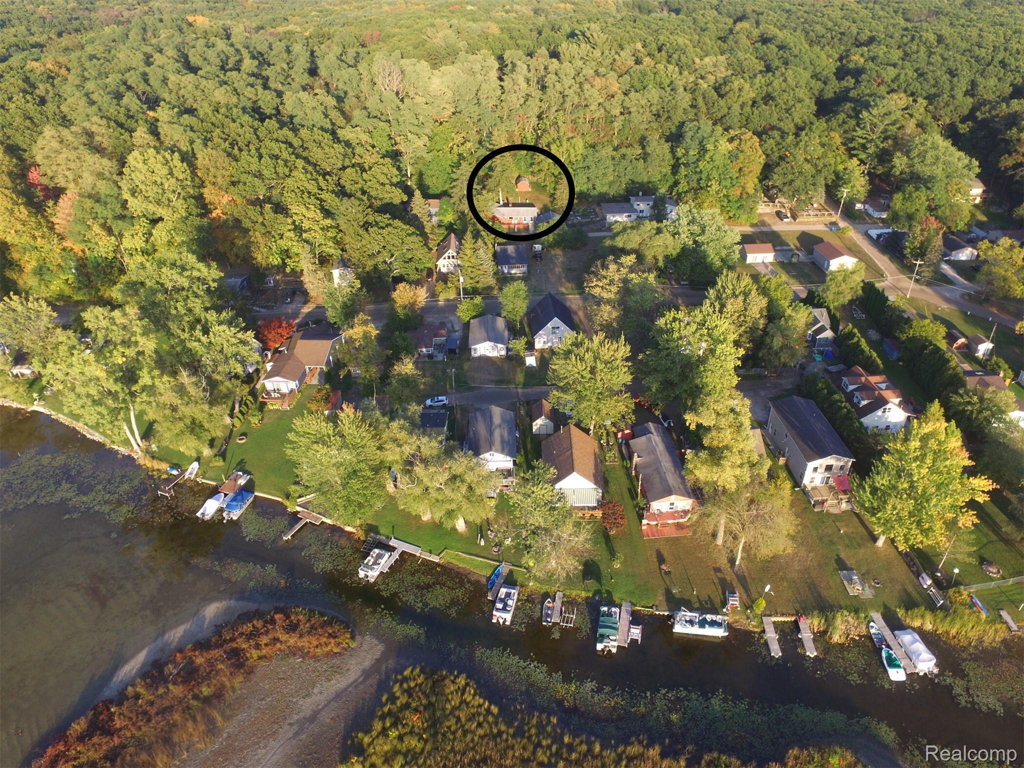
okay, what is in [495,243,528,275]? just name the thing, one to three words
house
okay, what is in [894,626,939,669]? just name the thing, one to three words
boat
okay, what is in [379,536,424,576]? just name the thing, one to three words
pier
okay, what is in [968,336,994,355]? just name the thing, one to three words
shed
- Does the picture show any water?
Yes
